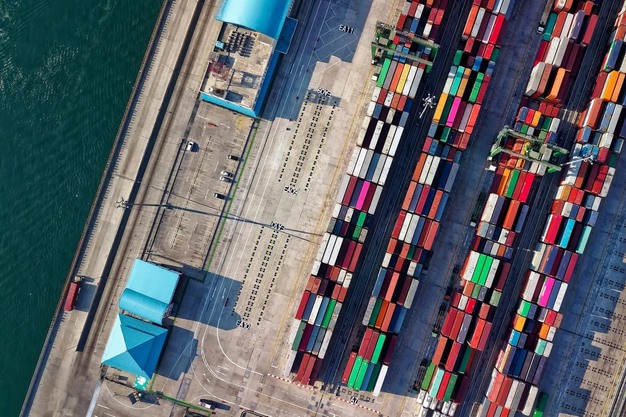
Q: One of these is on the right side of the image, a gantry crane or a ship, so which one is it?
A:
gantry crane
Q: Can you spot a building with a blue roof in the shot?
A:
Yes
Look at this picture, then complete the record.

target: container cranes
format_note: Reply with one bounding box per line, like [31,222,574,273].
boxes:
[482,124,570,180]
[370,20,443,87]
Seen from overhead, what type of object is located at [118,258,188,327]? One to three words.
building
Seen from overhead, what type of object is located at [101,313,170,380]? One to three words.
building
